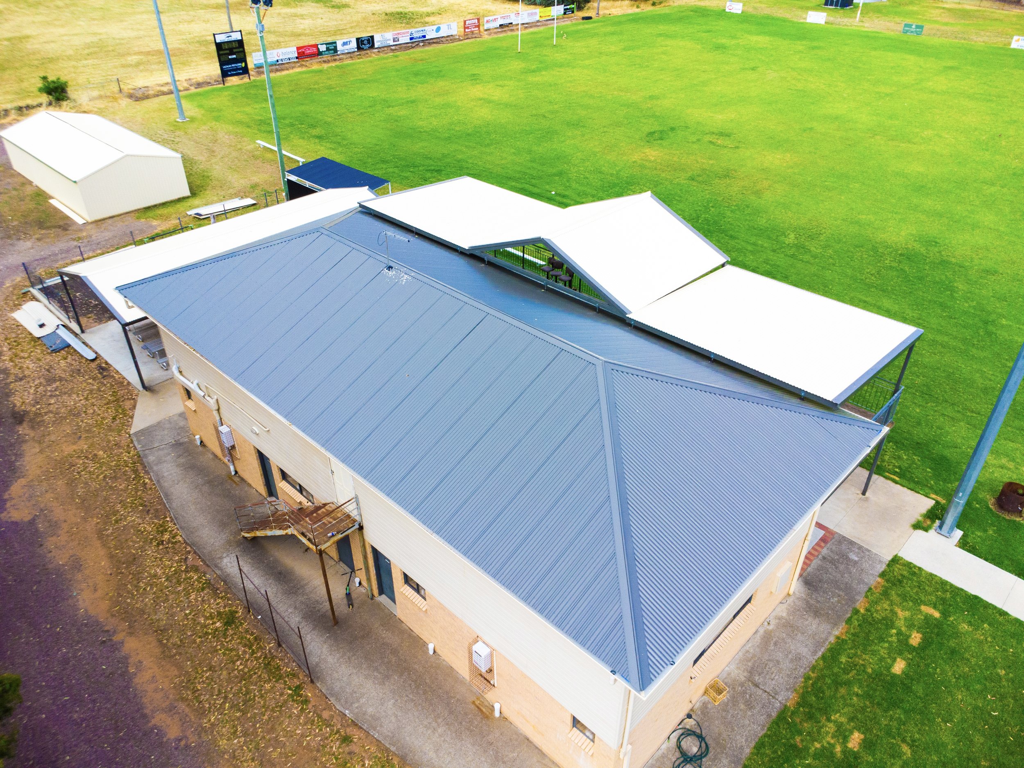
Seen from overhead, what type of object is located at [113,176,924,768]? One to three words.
building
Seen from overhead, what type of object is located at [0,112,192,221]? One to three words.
shed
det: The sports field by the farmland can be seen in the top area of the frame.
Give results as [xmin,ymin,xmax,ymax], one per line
[179,7,1024,606]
